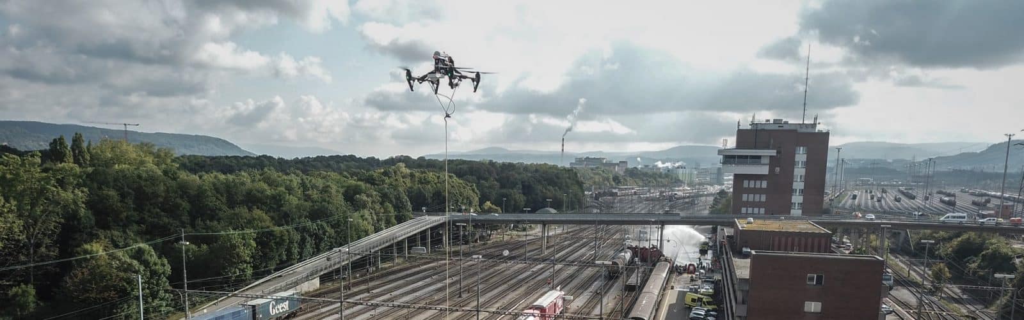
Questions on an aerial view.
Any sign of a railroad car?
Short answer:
Yes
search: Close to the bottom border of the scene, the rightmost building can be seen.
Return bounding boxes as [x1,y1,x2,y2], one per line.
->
[718,219,889,320]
